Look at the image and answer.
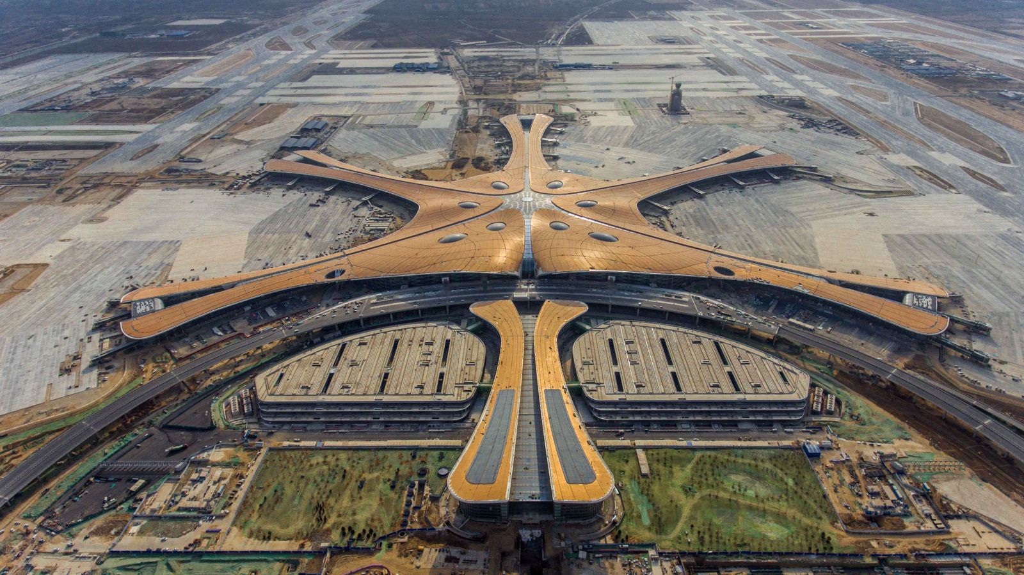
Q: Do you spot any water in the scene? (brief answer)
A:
No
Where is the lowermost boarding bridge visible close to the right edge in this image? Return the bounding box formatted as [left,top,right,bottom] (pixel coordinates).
[933,334,1000,364]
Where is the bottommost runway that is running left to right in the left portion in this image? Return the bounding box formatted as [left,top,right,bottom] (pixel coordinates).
[0,53,128,100]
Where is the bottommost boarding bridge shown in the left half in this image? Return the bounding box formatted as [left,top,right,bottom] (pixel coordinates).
[81,339,135,364]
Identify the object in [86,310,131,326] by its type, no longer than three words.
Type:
jet bridge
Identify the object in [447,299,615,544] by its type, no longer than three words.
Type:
building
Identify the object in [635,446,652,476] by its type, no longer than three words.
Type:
shed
